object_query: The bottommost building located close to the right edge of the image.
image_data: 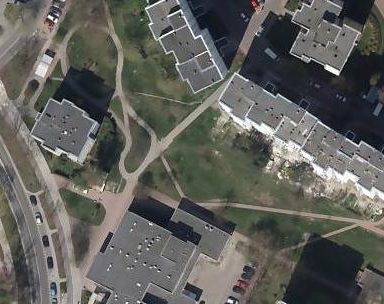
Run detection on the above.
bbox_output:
[362,267,384,297]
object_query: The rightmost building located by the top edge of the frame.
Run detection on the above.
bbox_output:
[289,0,361,86]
